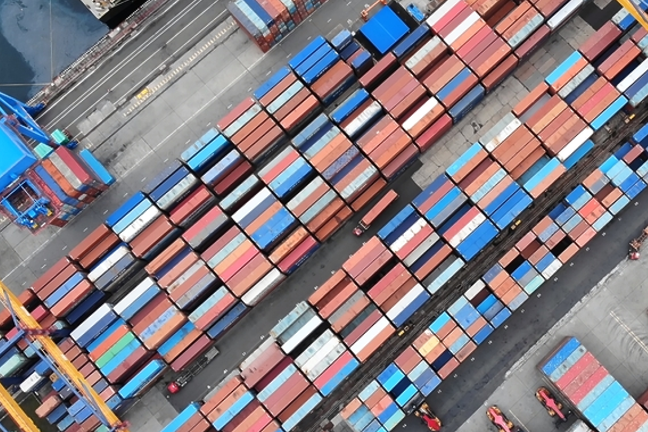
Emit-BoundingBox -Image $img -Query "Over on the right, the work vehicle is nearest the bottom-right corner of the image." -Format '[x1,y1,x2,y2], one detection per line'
[536,384,576,429]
